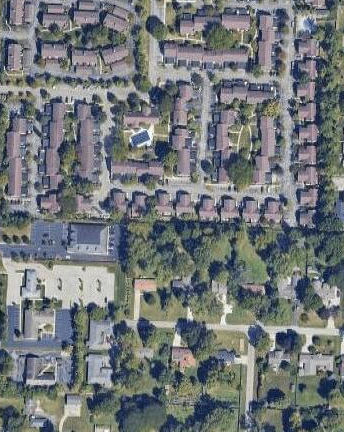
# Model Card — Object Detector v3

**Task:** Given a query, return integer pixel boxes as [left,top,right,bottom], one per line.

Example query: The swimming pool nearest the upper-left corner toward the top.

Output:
[129,128,151,147]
